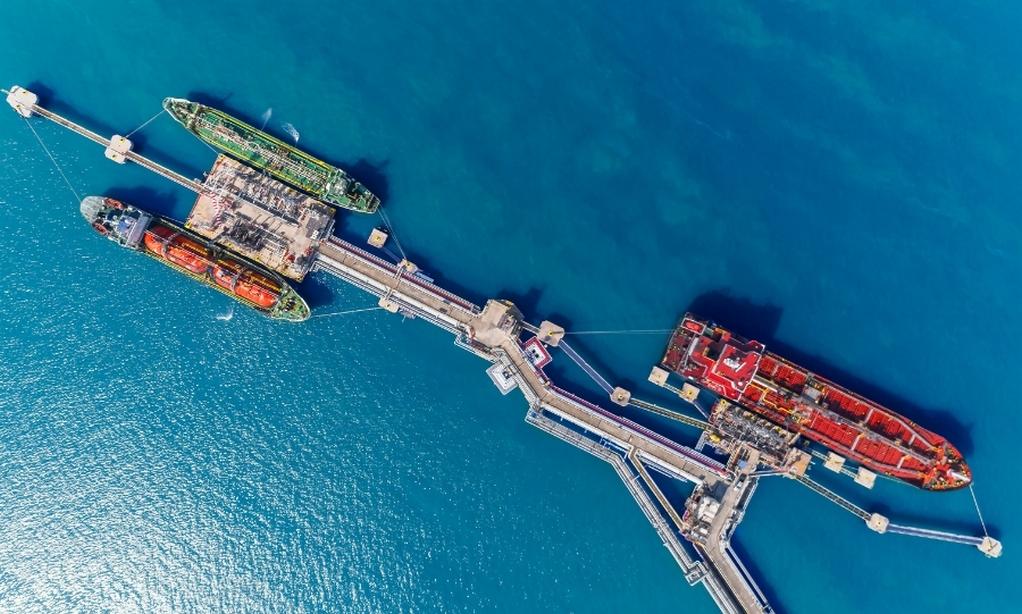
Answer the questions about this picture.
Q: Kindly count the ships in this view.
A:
3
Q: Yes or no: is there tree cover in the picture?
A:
No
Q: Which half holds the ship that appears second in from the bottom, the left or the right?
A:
left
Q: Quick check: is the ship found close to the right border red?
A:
Yes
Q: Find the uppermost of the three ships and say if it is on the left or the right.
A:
left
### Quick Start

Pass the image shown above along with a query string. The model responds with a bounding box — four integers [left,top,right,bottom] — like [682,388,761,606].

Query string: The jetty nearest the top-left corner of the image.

[187,154,335,282]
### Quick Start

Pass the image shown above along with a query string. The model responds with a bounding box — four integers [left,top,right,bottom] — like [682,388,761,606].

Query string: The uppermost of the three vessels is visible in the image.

[160,97,381,215]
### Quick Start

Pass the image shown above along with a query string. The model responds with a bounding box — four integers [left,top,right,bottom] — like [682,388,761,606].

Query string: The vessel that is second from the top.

[79,195,313,320]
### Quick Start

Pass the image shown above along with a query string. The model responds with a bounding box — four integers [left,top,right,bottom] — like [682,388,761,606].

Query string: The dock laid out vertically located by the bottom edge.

[710,448,773,614]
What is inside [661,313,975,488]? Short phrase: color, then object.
red ship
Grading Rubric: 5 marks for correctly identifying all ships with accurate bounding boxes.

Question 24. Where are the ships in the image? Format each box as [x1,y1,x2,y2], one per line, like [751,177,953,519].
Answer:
[160,97,381,215]
[79,195,313,320]
[661,313,975,488]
